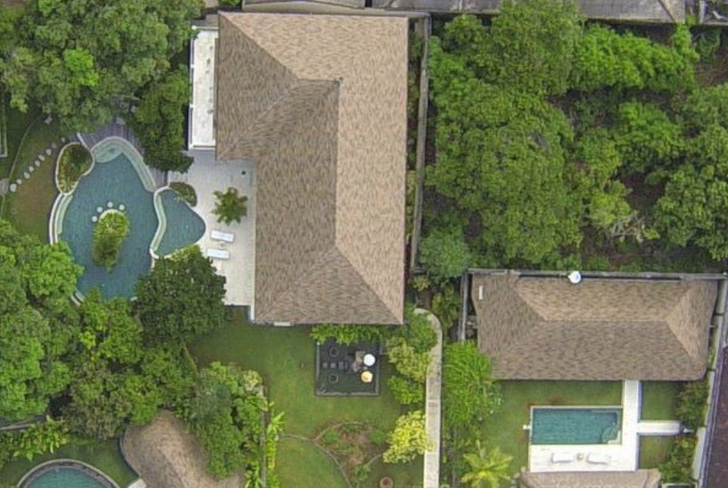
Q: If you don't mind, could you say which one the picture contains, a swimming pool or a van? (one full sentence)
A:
There is a swimming pool in the scene.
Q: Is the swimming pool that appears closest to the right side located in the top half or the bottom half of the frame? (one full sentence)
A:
It is in the bottom half that the swimming pool that appears closest to the right side appears.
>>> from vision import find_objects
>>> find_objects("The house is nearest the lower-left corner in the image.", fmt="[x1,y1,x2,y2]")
[120,415,248,488]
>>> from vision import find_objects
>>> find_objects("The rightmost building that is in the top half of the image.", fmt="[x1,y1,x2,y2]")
[216,12,408,326]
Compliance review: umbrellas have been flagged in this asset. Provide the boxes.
[358,369,371,382]
[363,353,375,366]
